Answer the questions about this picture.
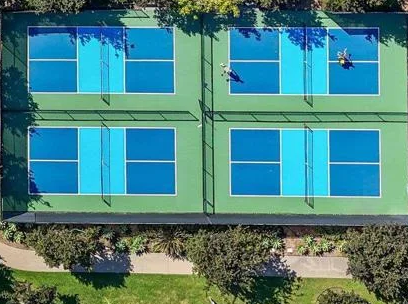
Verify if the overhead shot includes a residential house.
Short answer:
No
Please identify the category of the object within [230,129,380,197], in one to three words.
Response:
sports court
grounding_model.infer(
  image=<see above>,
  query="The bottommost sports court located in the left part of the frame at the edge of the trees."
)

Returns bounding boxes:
[29,127,177,196]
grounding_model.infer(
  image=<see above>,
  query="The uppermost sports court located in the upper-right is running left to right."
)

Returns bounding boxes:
[229,28,380,96]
